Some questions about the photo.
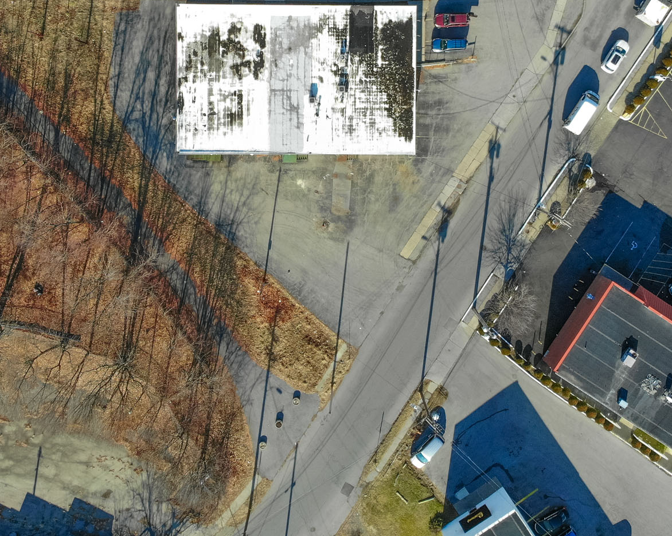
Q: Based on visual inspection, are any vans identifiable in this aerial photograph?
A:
Yes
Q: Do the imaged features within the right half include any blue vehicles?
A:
Yes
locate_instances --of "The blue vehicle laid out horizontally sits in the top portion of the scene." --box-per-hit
[431,36,467,53]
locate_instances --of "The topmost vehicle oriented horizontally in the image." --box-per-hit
[433,11,469,29]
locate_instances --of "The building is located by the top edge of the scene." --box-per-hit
[177,5,415,153]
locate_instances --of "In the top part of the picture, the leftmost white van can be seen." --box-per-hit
[562,86,600,136]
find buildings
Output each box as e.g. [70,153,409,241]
[177,5,415,153]
[542,267,672,446]
[440,487,532,536]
